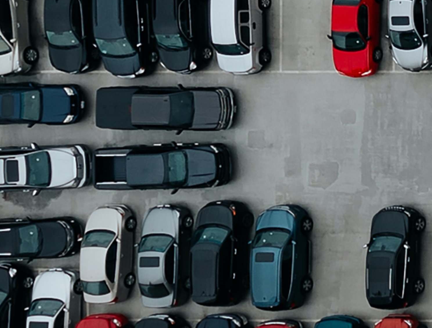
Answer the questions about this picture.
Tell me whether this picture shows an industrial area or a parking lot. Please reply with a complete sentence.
This looks like a parking lot.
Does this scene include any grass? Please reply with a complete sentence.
No, no grass is visible.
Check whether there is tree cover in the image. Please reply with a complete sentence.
No, there is no tree cover in the image.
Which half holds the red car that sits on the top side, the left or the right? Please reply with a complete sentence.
The red car that sits on the top side is on the right side of the image.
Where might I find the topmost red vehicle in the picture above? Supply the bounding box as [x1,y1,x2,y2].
[325,0,383,78]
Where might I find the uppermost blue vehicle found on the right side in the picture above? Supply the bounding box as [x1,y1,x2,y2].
[247,203,311,312]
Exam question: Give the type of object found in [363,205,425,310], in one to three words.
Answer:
car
